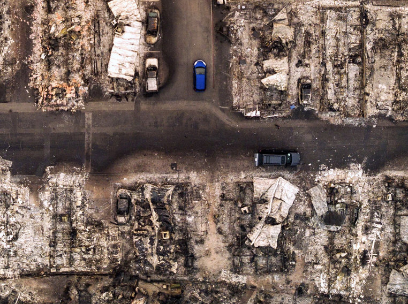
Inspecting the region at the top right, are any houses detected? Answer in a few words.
Yes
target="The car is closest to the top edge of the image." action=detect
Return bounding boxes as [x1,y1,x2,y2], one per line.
[145,9,160,44]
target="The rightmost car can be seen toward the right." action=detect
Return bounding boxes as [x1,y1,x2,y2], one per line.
[297,81,312,105]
